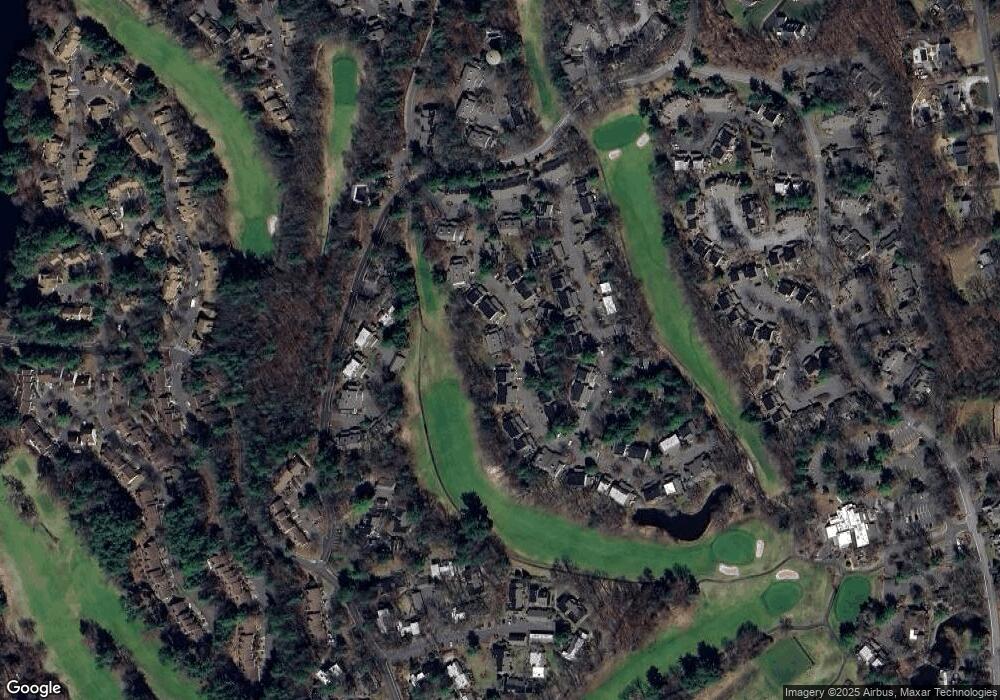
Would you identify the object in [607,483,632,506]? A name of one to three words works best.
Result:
house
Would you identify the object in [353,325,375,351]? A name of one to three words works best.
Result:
house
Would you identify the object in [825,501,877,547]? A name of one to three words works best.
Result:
building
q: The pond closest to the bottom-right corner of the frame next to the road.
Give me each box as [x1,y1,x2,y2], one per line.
[911,612,984,691]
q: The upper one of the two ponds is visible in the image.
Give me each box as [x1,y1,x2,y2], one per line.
[633,484,733,540]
